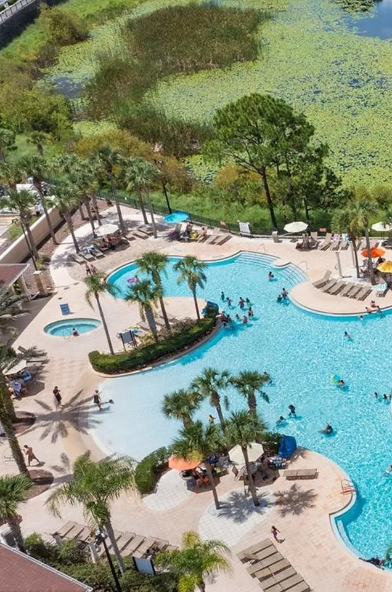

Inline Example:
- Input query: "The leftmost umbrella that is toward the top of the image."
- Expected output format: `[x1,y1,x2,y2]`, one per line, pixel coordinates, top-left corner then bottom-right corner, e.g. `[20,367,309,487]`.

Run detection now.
[95,225,121,245]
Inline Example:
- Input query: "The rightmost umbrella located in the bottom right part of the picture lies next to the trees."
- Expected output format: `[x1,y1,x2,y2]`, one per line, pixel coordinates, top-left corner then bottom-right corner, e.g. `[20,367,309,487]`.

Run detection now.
[276,432,301,457]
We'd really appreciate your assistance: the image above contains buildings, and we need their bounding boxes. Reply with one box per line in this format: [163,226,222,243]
[0,541,95,592]
[0,263,30,305]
